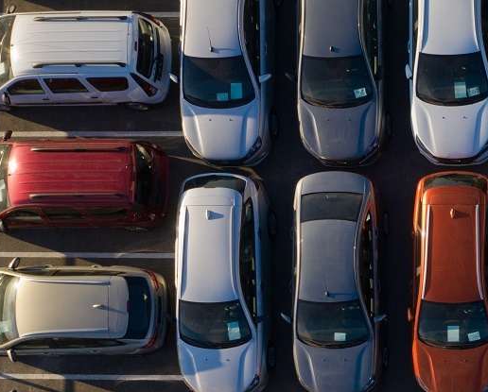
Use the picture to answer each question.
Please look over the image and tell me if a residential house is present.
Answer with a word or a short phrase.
No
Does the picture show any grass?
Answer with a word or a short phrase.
No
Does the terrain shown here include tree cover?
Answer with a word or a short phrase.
No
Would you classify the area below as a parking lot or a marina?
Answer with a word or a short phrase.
parking lot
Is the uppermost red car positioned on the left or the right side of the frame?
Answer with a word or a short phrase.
left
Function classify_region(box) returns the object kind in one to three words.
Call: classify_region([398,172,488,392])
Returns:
car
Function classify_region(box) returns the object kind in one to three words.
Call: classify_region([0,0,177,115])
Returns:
car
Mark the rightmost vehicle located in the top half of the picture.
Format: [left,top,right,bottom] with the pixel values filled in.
[397,0,488,168]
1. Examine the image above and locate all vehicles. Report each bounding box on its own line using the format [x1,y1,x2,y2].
[274,169,386,392]
[0,125,175,236]
[280,0,392,170]
[160,172,279,392]
[0,0,177,115]
[163,0,282,169]
[398,172,488,392]
[0,254,173,364]
[397,0,488,168]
